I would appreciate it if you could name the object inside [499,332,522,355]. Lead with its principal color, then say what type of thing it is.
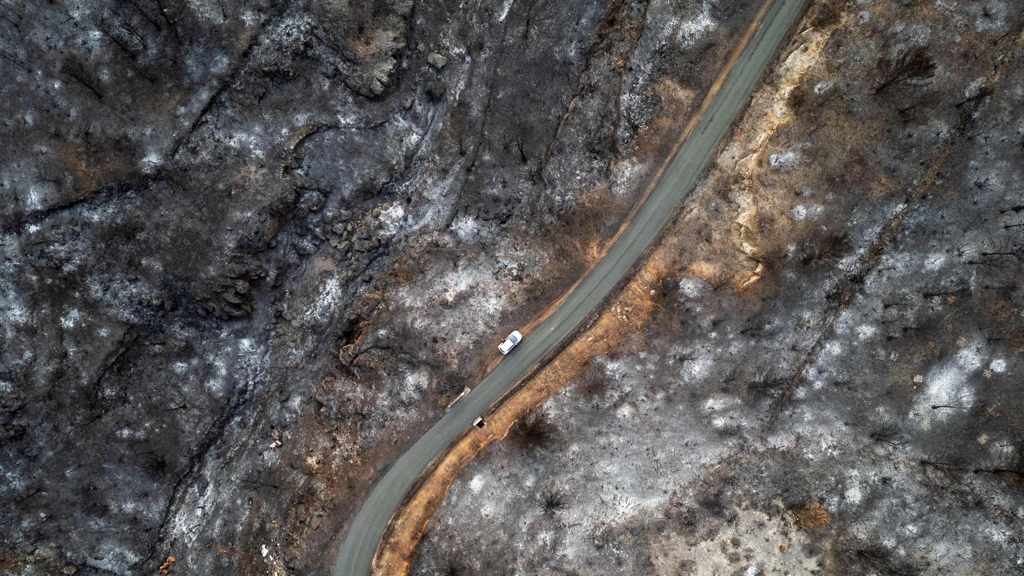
white car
